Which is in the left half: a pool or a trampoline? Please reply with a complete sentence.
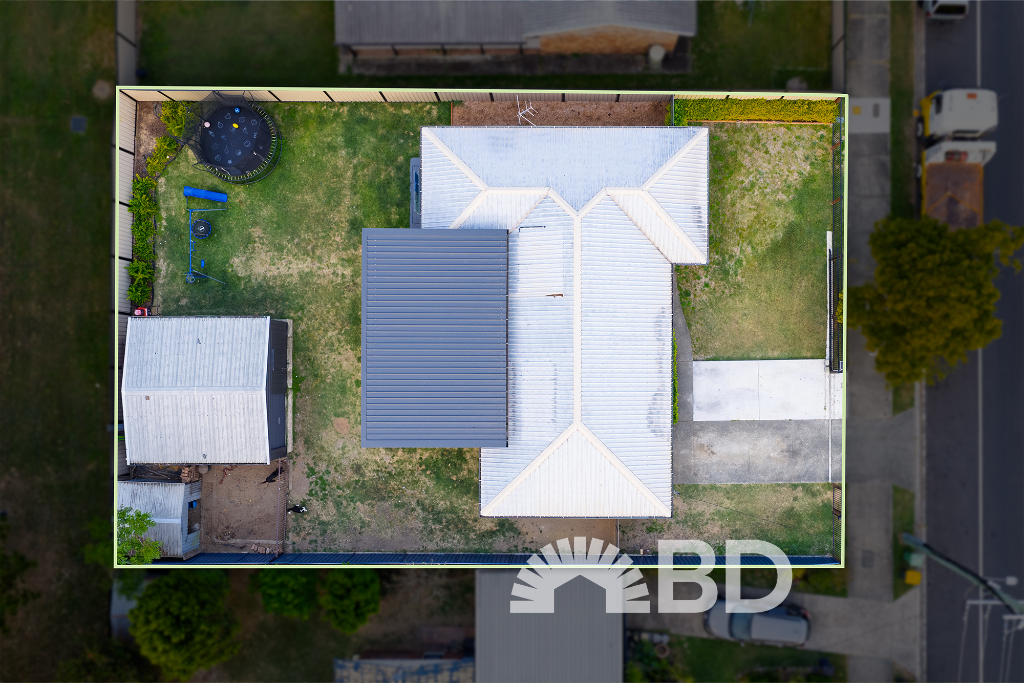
The one visible in the left half is a trampoline.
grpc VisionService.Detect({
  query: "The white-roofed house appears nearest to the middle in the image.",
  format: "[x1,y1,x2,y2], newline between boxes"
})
[418,123,711,520]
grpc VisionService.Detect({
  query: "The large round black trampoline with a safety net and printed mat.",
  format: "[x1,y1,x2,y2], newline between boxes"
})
[181,90,282,184]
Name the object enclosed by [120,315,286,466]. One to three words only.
shed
